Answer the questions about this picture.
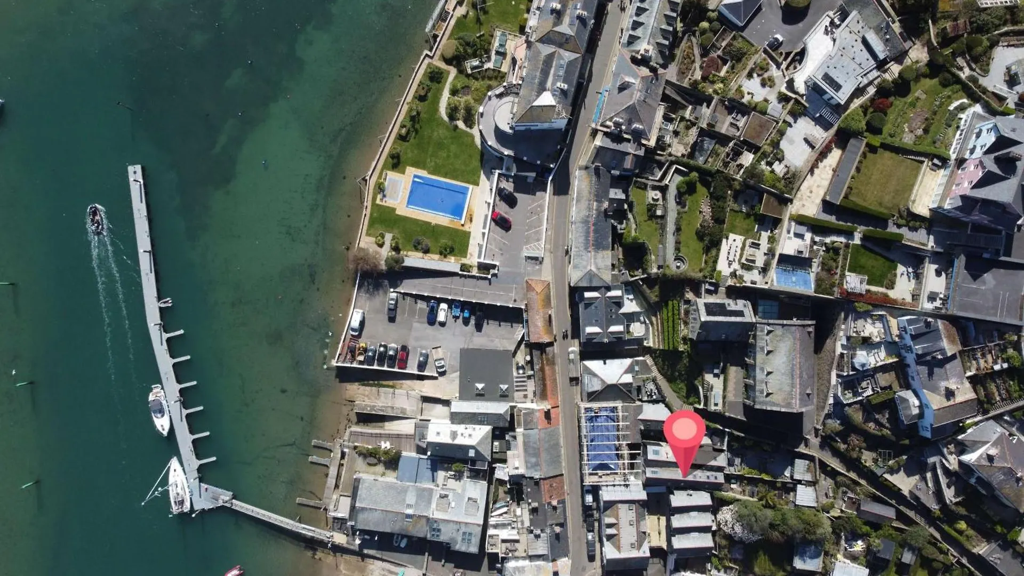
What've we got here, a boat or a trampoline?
boat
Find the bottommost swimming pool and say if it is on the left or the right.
right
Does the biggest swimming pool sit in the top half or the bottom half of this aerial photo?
top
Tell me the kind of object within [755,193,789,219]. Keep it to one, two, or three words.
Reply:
building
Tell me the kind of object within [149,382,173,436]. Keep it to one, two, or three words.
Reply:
boat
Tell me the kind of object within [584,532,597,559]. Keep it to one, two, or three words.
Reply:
vehicle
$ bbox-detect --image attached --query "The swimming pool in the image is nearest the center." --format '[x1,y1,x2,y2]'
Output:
[405,173,473,224]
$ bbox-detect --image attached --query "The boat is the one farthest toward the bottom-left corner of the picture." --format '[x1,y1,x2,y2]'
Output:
[144,457,192,514]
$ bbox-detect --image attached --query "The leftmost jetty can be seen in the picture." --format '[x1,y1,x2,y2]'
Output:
[128,165,235,511]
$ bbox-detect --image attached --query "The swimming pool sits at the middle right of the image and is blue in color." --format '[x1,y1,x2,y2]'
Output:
[772,267,814,292]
